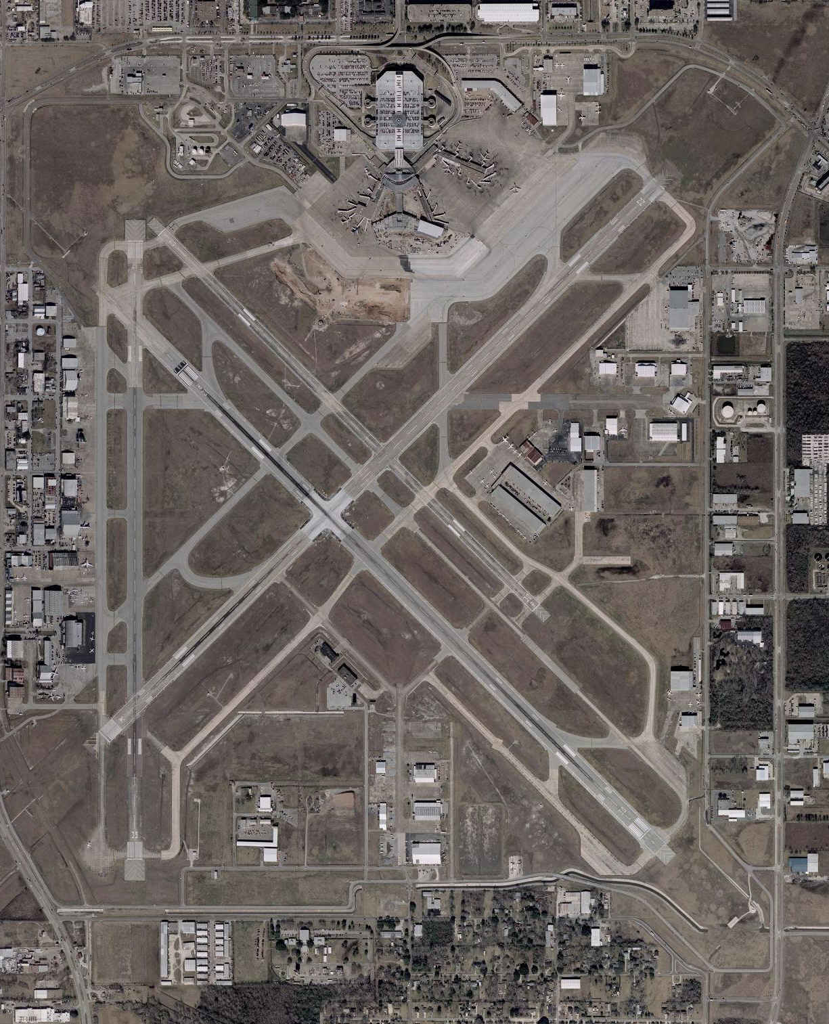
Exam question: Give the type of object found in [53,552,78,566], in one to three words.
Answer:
hangar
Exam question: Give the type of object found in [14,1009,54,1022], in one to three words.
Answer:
building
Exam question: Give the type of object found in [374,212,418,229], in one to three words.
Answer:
building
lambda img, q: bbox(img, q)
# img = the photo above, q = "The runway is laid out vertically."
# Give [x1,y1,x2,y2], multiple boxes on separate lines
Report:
[125,219,146,881]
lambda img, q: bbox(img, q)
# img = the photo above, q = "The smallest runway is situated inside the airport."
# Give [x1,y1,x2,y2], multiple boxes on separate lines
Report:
[140,210,547,619]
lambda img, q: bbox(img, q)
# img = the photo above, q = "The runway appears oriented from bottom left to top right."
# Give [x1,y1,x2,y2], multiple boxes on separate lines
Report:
[81,172,669,745]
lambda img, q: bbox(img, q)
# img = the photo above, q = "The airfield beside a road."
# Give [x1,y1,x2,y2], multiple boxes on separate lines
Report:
[6,106,702,881]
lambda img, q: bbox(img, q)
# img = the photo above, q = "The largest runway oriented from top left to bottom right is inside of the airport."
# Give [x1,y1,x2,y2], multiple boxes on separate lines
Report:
[94,281,671,860]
